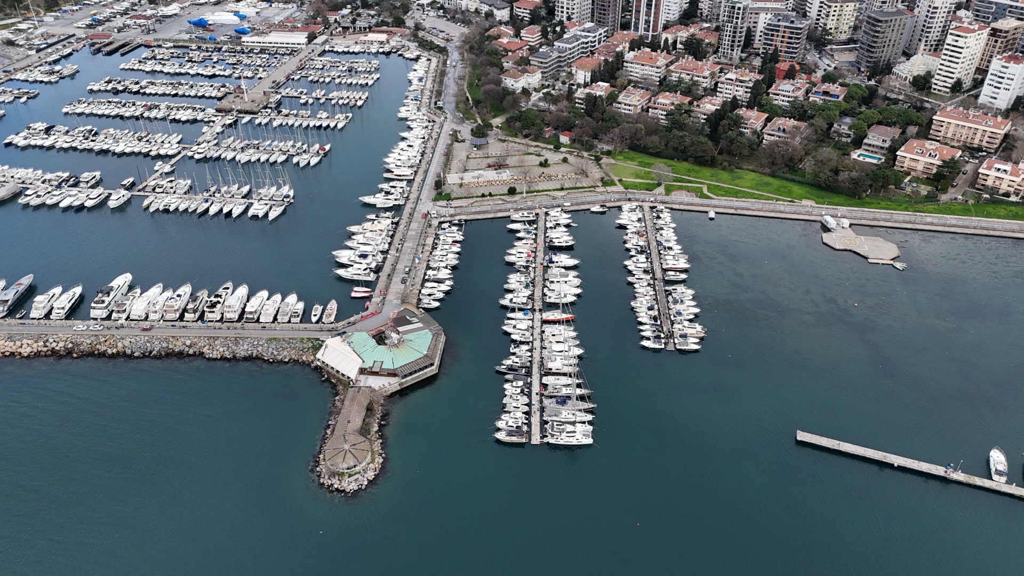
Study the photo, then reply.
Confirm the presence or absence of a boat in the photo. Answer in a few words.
Yes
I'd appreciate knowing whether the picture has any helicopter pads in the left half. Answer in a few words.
No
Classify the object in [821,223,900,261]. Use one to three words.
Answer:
helipad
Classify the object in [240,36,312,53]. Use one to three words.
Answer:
building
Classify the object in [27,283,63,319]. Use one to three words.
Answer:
boat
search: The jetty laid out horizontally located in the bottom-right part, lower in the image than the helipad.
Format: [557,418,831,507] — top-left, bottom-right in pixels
[795,430,1024,499]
